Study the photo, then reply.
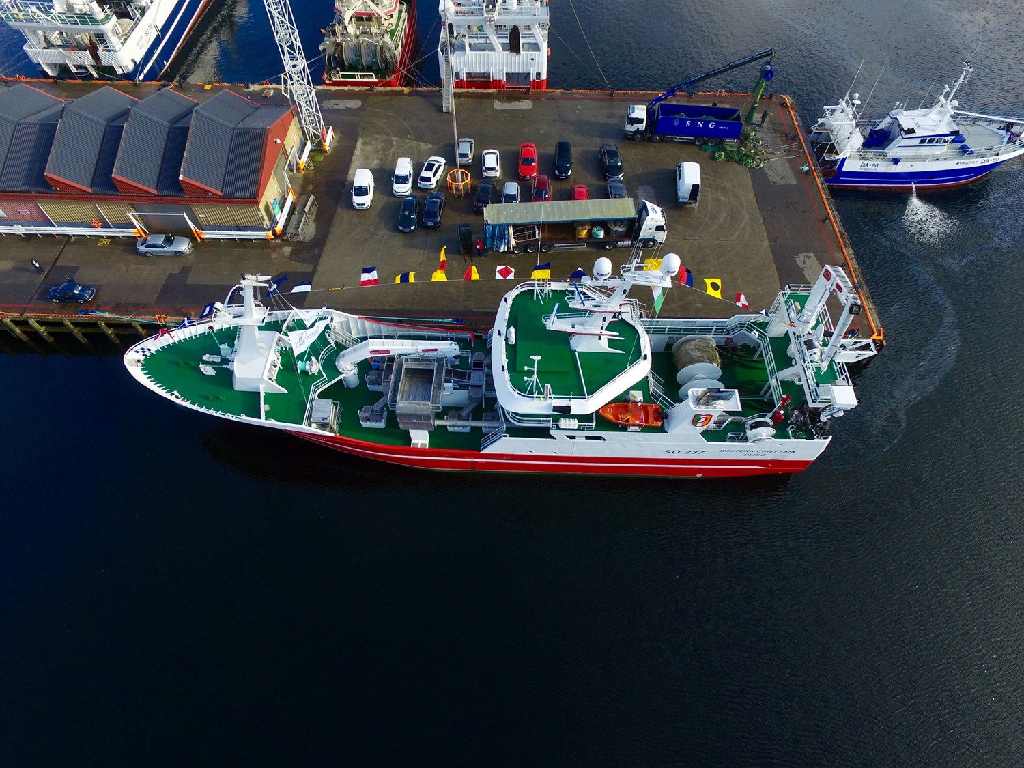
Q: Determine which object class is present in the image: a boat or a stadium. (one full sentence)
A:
Looking from above, you can make out a boat.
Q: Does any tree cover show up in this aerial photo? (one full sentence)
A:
No, there is no tree cover in the image.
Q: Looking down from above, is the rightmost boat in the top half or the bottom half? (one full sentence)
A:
The top half of the photo is where the rightmost boat is.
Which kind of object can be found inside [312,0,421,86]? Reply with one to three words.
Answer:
boat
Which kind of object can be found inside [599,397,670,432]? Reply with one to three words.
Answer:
boat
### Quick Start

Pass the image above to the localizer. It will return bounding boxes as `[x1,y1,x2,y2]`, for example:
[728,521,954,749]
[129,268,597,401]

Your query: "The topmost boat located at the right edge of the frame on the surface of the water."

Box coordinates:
[805,44,1024,189]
